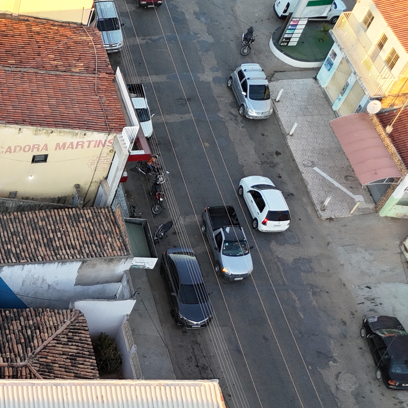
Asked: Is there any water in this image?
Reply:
No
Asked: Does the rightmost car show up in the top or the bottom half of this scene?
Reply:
bottom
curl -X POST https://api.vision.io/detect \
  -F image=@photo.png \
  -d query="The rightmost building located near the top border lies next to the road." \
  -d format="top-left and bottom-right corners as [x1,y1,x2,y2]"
[309,0,408,119]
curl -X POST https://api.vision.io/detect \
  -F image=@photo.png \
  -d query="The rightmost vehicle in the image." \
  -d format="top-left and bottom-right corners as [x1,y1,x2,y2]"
[363,312,408,390]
